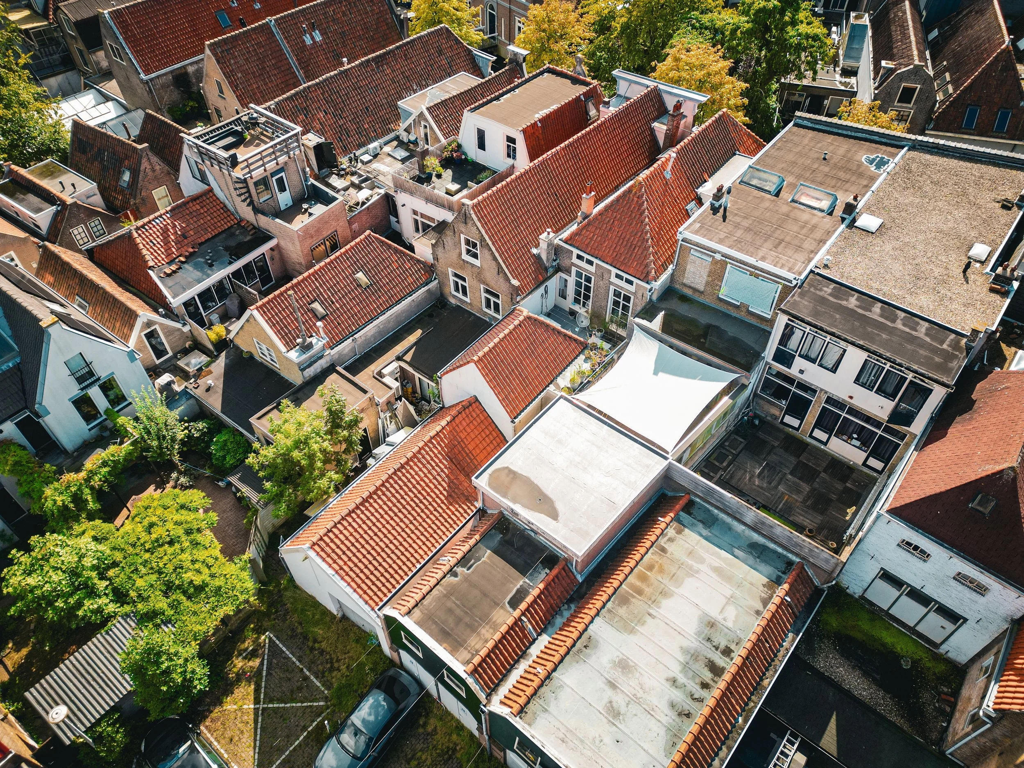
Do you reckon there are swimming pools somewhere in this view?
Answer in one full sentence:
No, there isn't any swimming pool down there.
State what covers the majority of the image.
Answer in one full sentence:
The bulk of the photo consists of buildings.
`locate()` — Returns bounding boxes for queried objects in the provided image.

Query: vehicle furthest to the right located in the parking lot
[317,672,425,768]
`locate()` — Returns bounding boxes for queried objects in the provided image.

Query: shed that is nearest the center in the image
[432,307,583,443]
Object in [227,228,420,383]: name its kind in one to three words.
house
